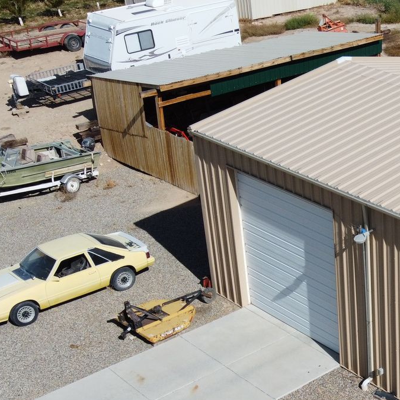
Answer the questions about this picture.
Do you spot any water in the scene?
No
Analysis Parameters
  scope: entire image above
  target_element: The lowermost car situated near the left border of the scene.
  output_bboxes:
[0,227,156,326]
